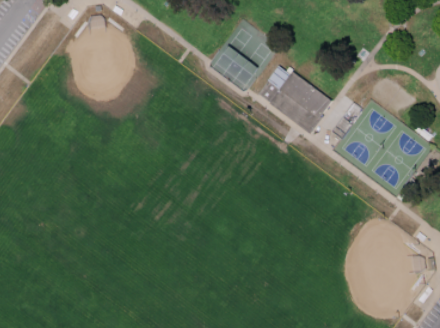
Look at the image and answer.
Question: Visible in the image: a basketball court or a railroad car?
basketball court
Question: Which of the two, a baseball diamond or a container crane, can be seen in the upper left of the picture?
baseball diamond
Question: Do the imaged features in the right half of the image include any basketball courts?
Yes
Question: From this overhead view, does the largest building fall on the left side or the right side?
right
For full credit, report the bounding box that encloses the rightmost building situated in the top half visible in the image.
[260,66,332,133]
